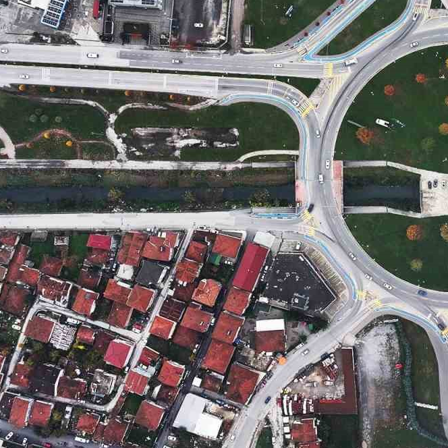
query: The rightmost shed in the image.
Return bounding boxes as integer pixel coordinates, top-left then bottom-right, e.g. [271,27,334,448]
[317,346,359,413]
